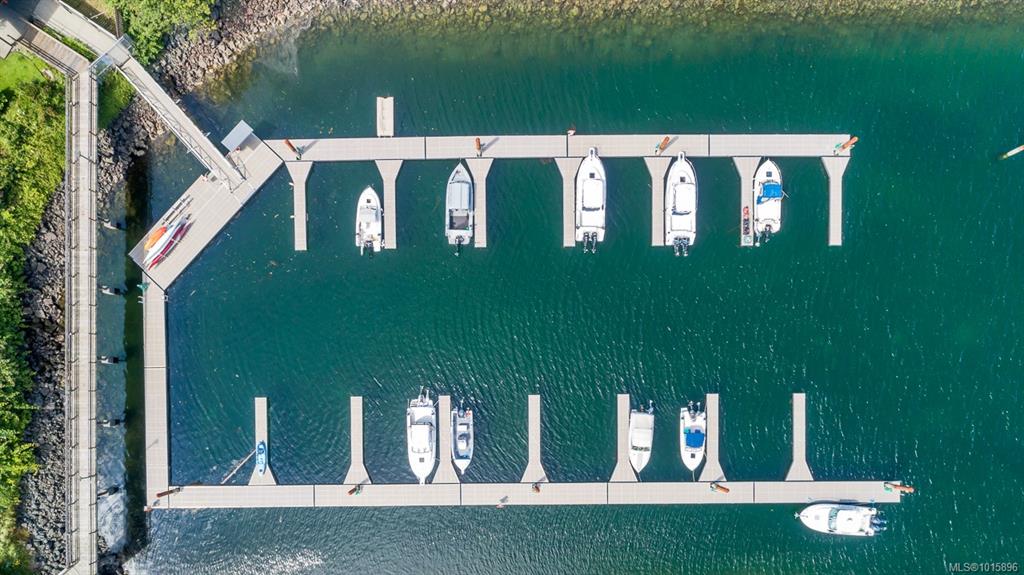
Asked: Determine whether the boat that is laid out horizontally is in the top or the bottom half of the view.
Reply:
bottom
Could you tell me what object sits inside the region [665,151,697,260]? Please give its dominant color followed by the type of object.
white boat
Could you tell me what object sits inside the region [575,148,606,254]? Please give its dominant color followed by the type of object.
white boat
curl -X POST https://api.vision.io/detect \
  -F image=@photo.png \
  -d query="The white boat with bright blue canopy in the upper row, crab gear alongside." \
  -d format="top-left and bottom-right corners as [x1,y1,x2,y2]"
[754,159,795,246]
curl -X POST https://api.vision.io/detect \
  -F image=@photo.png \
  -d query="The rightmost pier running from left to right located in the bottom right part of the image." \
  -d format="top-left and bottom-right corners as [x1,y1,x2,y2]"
[754,481,901,504]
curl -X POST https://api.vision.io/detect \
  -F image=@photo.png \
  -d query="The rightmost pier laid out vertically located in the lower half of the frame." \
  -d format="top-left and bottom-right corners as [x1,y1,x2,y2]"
[783,393,813,481]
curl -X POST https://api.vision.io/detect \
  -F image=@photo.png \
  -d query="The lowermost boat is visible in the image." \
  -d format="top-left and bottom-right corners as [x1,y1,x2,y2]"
[796,503,890,536]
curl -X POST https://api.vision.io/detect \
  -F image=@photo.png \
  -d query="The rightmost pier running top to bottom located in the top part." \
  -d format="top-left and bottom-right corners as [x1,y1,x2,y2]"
[821,157,851,247]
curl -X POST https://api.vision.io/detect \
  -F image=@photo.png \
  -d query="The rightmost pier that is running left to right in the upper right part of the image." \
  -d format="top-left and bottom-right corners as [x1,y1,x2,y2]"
[708,134,851,158]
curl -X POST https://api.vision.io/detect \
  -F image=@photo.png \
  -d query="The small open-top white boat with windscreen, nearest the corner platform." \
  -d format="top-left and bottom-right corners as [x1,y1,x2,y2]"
[357,186,382,260]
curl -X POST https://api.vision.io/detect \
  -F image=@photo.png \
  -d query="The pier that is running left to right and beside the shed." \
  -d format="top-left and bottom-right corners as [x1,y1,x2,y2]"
[264,136,425,162]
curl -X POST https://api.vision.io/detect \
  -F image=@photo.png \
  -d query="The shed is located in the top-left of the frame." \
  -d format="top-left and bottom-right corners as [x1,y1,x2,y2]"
[220,119,261,160]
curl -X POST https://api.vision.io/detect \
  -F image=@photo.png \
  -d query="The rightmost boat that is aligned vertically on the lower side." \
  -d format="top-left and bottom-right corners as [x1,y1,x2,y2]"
[679,393,707,472]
